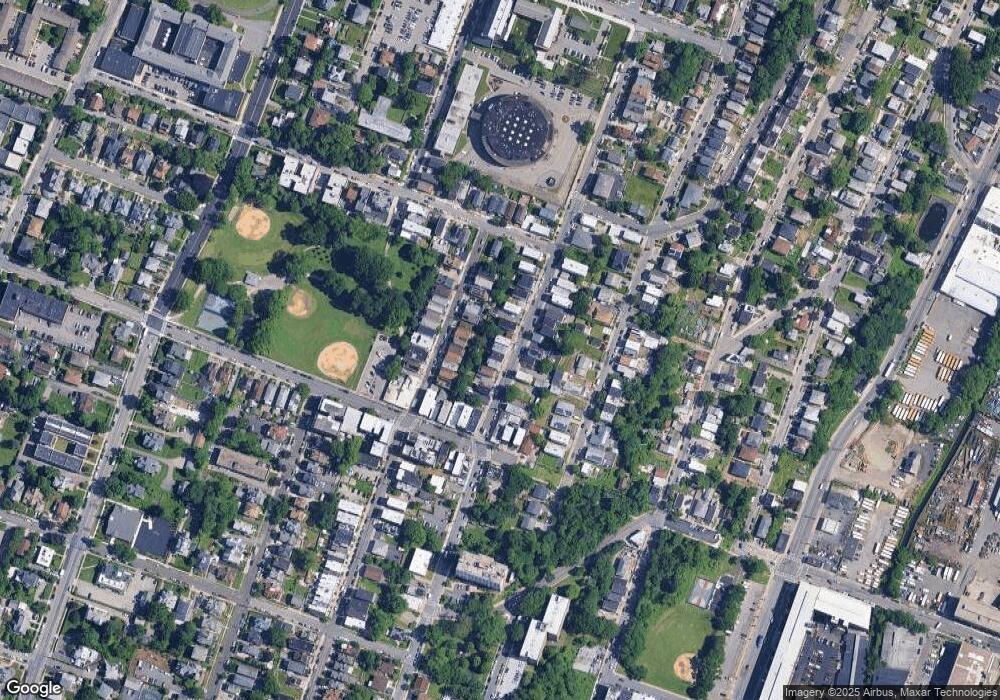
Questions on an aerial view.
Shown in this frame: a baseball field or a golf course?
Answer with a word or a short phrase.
baseball field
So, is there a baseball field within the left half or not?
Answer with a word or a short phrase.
Yes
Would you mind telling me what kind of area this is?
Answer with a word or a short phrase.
residential area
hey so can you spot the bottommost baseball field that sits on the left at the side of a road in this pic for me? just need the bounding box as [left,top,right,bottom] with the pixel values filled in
[271,317,370,387]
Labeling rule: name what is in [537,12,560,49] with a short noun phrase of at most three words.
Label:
building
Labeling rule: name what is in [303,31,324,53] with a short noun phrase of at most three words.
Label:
house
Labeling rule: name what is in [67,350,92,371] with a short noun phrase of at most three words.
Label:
house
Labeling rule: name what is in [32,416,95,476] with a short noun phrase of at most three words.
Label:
building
